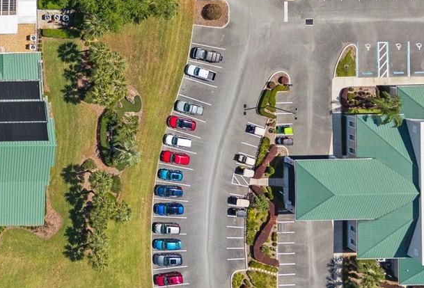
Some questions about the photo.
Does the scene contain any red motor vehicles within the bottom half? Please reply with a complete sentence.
Yes, a red motor vehicle appears within the bottom half.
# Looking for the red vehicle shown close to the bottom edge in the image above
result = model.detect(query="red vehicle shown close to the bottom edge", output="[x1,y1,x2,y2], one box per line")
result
[153,271,184,287]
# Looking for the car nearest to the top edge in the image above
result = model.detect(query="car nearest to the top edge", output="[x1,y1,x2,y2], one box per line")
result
[190,47,221,63]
